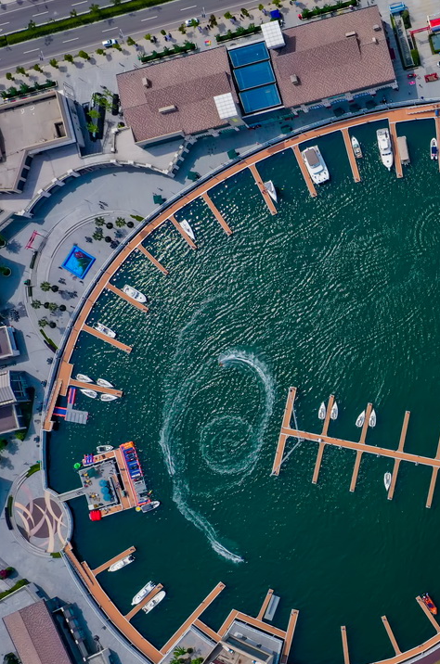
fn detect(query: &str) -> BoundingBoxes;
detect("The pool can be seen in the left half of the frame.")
[62,246,97,279]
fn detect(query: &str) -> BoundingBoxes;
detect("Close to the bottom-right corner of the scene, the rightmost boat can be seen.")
[423,594,435,615]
